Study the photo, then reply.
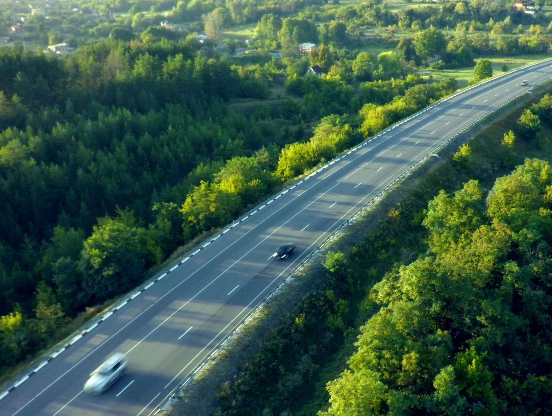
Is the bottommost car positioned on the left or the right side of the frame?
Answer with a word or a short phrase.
left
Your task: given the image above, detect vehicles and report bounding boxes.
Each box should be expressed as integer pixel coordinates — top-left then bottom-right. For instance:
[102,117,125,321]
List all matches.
[87,356,129,392]
[520,78,530,86]
[272,240,296,259]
